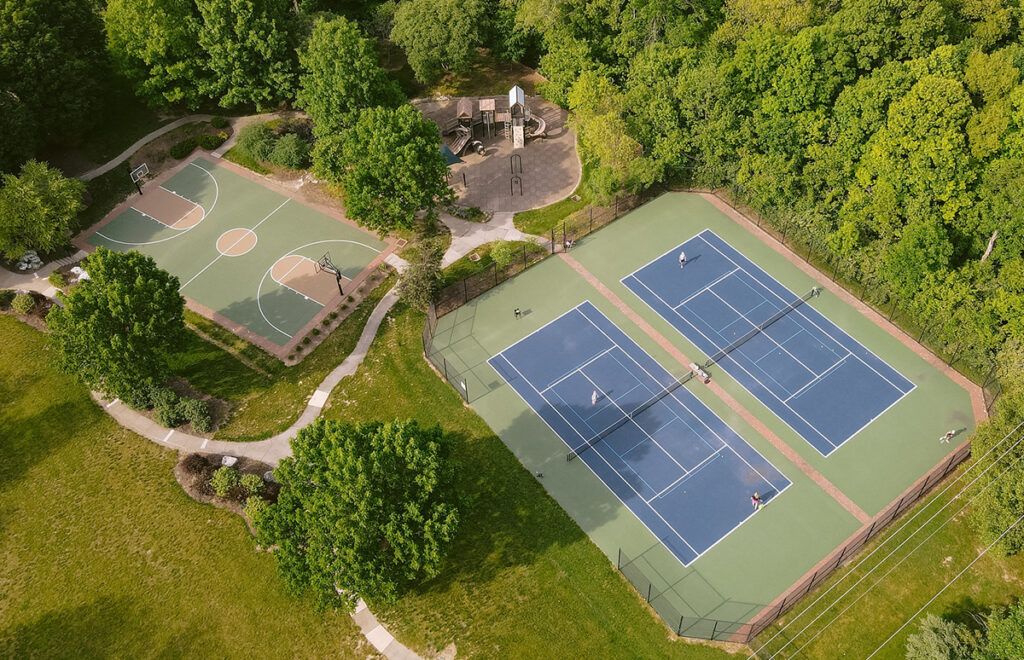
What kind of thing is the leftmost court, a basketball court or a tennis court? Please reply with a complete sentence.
In the photo, the leftmost court shows up as a basketball court.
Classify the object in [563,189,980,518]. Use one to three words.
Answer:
tennis court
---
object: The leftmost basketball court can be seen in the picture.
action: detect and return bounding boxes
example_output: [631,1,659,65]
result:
[73,149,397,357]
